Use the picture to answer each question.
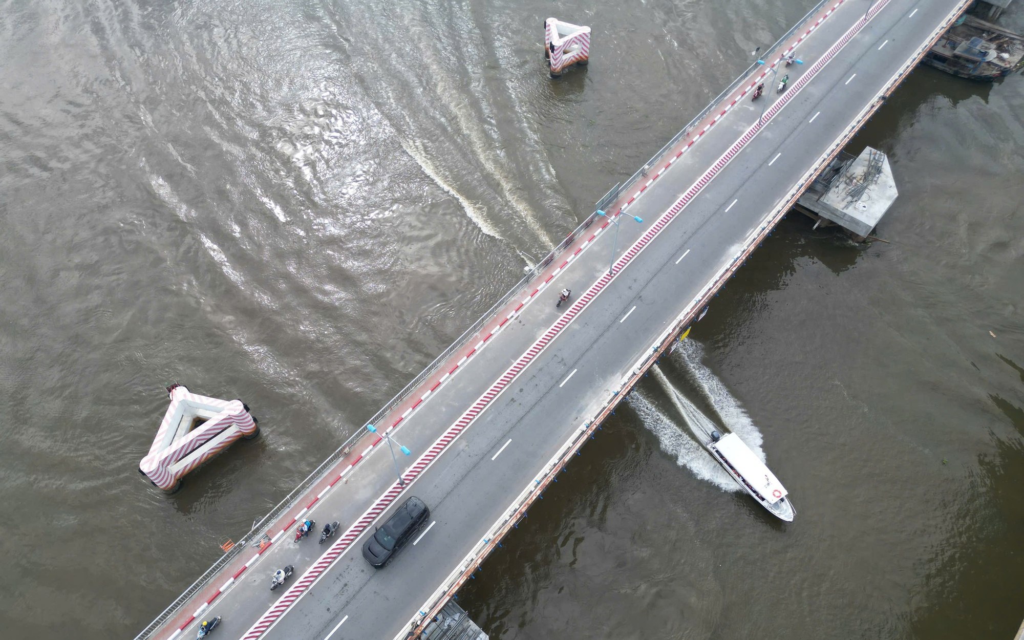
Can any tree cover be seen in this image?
No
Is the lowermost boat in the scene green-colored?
No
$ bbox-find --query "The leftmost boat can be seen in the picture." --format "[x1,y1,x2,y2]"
[707,430,799,524]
